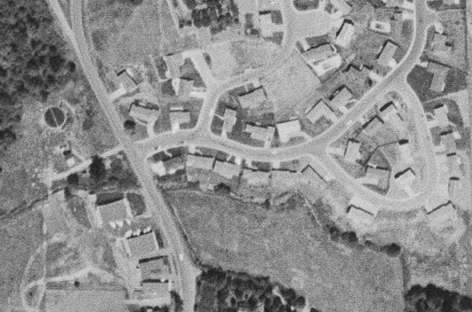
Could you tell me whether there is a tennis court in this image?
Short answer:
No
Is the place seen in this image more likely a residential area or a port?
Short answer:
residential area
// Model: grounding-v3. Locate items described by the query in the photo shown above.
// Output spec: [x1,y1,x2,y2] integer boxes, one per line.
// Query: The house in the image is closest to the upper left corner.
[116,70,140,94]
